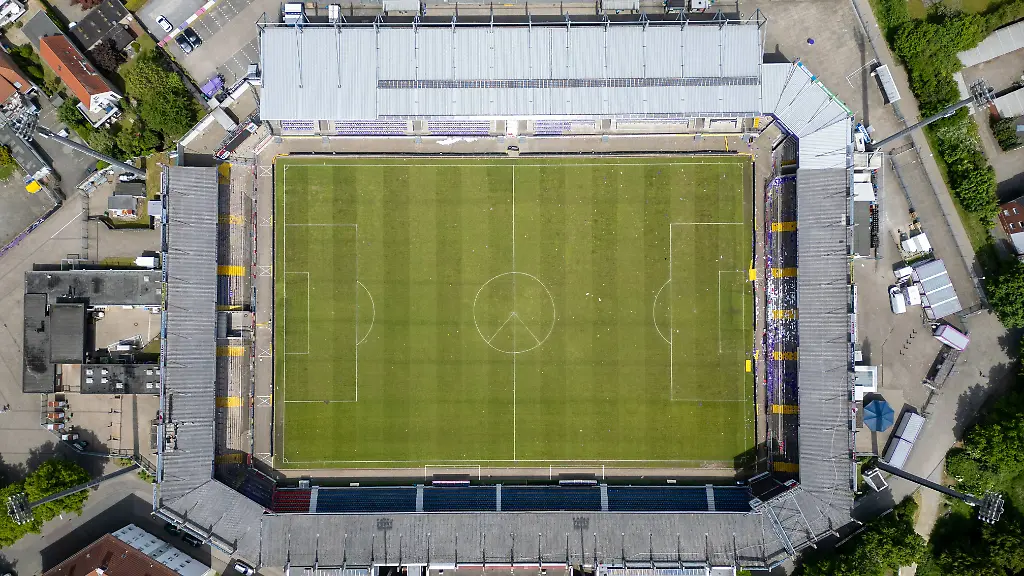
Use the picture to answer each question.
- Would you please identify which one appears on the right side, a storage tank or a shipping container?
shipping container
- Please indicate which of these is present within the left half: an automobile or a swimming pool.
automobile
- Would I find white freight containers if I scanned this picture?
Yes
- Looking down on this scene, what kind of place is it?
sports ground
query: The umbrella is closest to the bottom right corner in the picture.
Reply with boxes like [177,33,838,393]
[861,401,893,432]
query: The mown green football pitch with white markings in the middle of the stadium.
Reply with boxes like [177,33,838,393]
[274,156,753,469]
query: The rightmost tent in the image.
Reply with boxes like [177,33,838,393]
[909,260,962,320]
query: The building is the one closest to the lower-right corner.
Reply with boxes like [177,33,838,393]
[859,466,888,491]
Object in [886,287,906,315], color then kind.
white vehicle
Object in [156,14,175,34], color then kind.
white car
